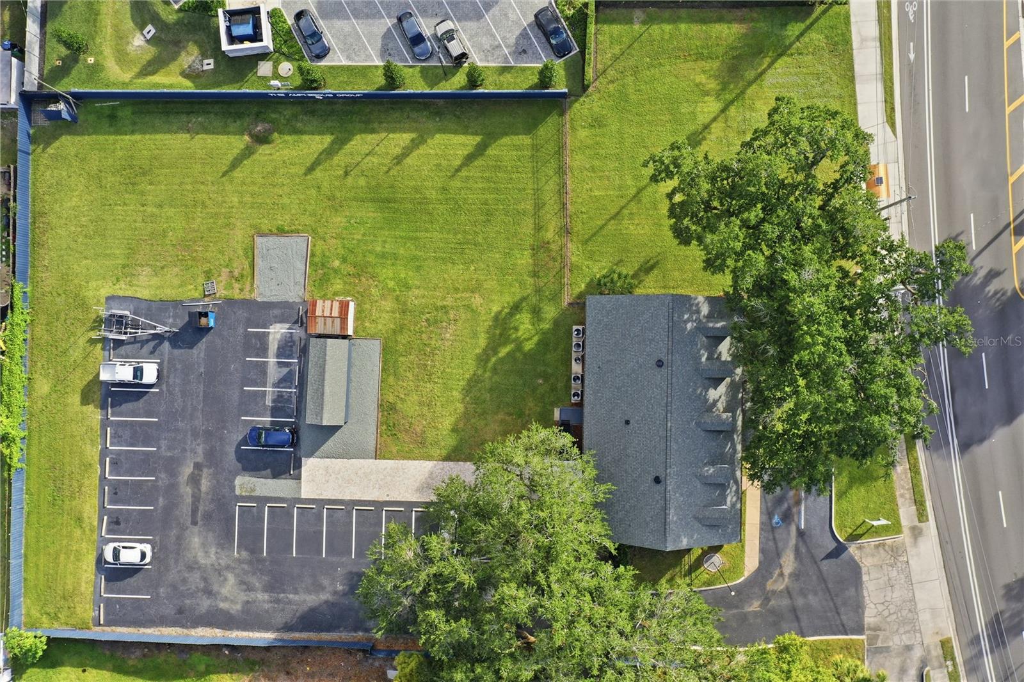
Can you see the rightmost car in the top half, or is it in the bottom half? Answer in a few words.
top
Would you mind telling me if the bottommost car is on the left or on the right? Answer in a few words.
left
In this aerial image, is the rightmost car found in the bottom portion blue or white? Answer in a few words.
blue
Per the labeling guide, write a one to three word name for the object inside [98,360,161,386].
truck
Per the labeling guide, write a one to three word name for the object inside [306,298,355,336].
shed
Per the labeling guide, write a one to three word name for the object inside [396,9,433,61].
car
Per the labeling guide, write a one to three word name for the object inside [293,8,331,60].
car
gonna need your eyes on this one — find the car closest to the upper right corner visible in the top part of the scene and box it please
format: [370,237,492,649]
[535,7,572,58]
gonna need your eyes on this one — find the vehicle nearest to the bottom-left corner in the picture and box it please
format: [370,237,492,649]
[105,542,154,567]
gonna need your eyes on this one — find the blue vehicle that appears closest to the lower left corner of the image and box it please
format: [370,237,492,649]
[248,425,298,449]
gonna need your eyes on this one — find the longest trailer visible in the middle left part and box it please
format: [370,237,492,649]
[85,305,178,339]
